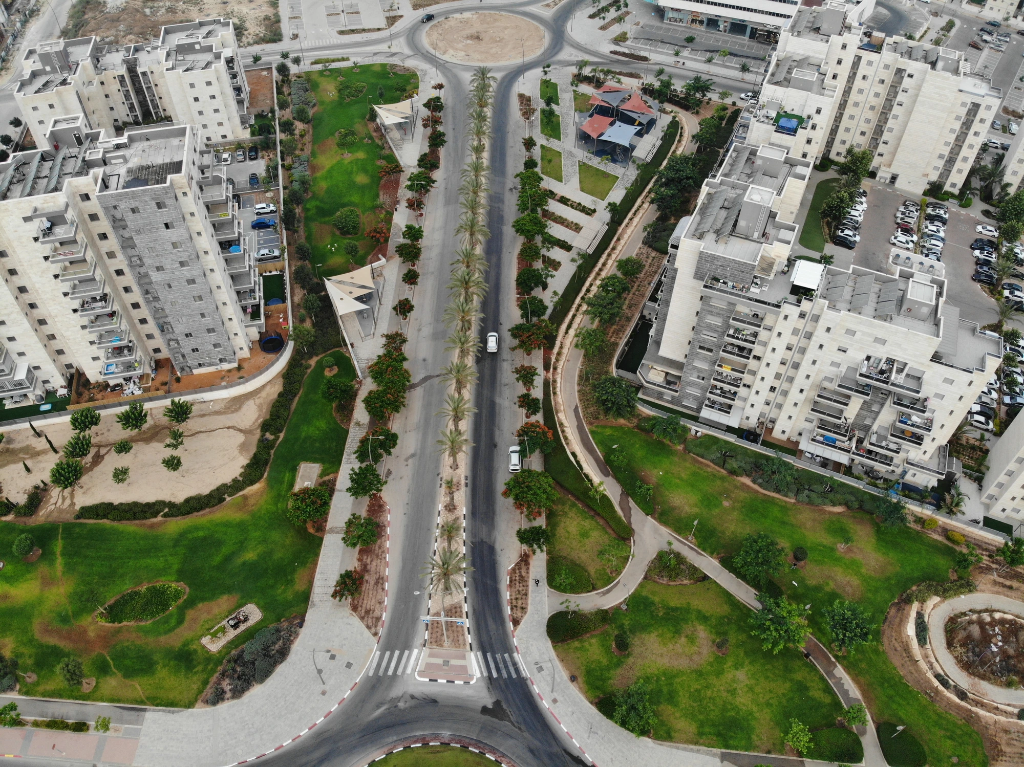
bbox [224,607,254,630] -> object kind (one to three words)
work vehicle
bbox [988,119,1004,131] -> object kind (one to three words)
vehicle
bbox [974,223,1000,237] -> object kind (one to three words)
car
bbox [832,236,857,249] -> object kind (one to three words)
vehicle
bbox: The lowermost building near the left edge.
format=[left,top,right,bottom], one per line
[0,115,263,401]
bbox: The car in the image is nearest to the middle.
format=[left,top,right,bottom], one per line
[485,333,499,353]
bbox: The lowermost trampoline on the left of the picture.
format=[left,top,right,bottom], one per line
[259,328,283,351]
